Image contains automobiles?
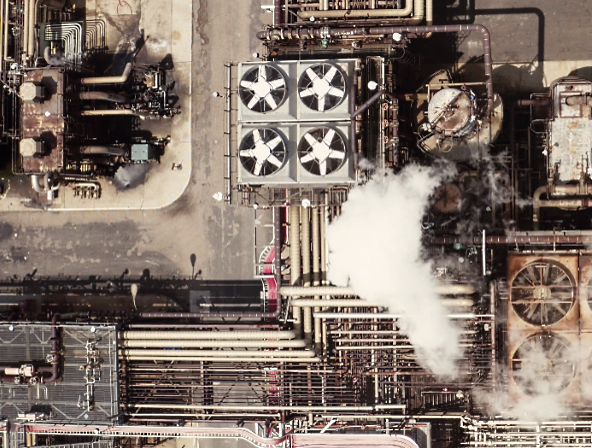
No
